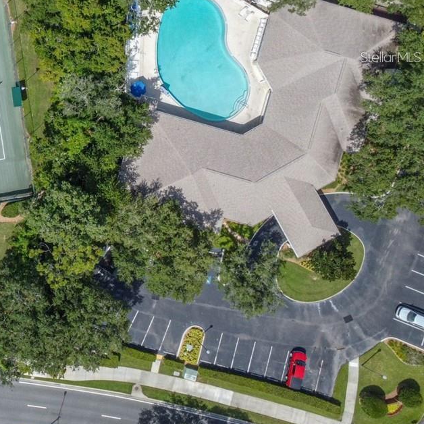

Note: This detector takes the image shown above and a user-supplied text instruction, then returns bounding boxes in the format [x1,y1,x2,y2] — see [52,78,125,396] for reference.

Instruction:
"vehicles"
[393,307,424,328]
[286,349,308,390]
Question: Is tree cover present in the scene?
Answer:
Yes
